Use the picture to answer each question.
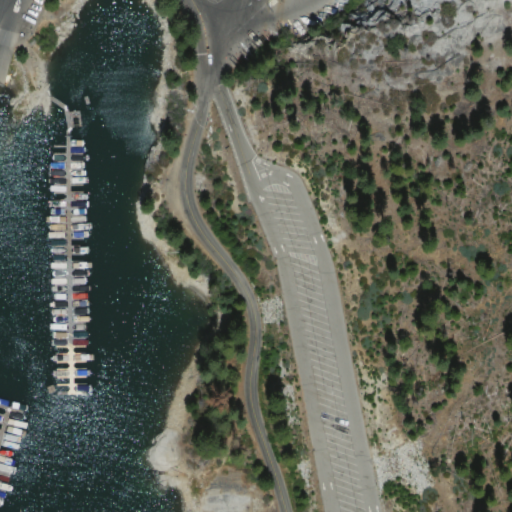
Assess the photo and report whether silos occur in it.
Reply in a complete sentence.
No, no silo can be seen from above.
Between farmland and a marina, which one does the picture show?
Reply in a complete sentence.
What you see here is a marina.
